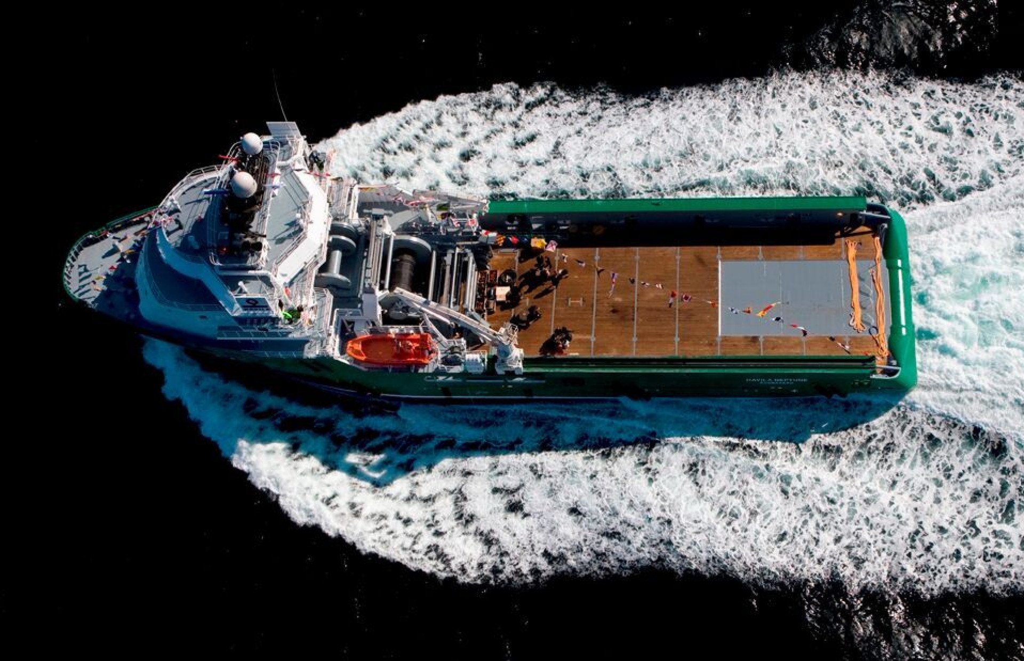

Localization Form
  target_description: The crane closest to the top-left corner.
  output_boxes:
[418,187,490,246]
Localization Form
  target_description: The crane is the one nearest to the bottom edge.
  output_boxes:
[389,290,525,377]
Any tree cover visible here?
No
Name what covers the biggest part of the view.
water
